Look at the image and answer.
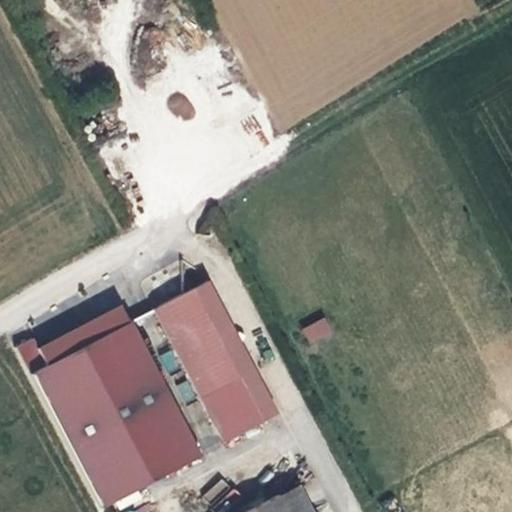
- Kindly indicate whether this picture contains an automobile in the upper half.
No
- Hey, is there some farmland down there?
Yes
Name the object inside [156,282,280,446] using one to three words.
barn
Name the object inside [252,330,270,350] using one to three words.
work vehicle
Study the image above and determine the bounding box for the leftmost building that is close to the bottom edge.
[36,322,204,508]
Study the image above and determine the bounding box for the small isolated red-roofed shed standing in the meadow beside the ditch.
[302,318,332,345]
